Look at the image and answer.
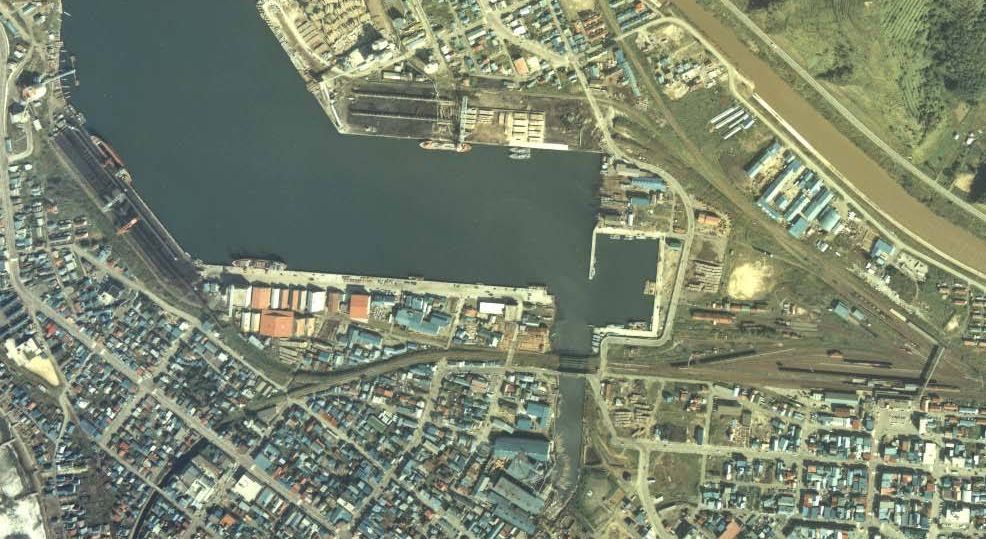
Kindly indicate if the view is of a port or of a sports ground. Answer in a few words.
port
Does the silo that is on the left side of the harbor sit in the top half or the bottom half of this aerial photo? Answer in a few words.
top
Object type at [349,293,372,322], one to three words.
building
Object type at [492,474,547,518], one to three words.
building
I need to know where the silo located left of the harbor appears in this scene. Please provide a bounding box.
[21,85,50,106]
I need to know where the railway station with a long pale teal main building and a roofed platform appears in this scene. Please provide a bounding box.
[813,377,931,425]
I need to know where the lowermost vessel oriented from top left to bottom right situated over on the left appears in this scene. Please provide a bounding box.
[90,136,134,185]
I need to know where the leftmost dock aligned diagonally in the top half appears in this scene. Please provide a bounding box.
[69,122,195,266]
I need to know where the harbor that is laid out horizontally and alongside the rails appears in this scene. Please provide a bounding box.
[69,3,666,352]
